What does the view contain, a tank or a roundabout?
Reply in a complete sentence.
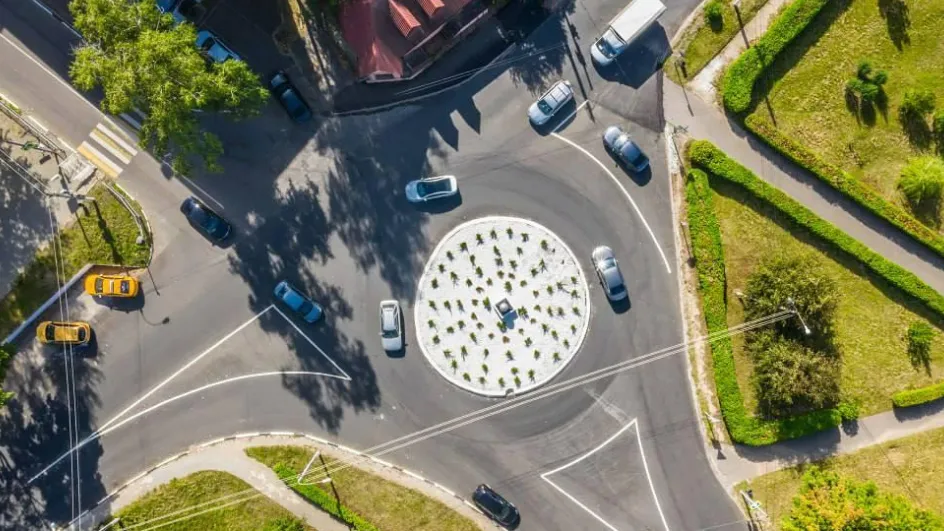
There is a roundabout in the scene.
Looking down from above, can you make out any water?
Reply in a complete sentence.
No, the picture contains no water.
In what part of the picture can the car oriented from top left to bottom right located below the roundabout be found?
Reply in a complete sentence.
Look in the bottom portion of the view to spot the car oriented from top left to bottom right located below the roundabout.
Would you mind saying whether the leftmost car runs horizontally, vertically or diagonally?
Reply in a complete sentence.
The leftmost car is laid out horizontally.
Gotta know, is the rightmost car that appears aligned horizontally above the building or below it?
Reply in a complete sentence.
As seen from overhead, the rightmost car that appears aligned horizontally falls below the building in the picture.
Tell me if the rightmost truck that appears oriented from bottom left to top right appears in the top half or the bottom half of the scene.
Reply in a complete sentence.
The rightmost truck that appears oriented from bottom left to top right is in the top half of the image.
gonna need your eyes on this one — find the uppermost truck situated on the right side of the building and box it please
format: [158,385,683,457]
[594,0,673,63]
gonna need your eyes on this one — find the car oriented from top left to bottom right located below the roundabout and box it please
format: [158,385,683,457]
[471,482,521,531]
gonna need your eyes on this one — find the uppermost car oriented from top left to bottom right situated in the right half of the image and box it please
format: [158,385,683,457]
[603,124,650,173]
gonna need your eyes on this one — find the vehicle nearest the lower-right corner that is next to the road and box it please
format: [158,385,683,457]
[594,246,626,300]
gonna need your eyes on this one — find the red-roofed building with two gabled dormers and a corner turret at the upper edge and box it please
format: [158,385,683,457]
[348,0,498,92]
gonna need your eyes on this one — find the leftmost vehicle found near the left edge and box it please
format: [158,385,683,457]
[38,320,92,346]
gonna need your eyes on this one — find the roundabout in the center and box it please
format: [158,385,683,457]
[381,181,624,432]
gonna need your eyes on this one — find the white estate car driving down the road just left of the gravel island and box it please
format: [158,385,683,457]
[379,301,403,350]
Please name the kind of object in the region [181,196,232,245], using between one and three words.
car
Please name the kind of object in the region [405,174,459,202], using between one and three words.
car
